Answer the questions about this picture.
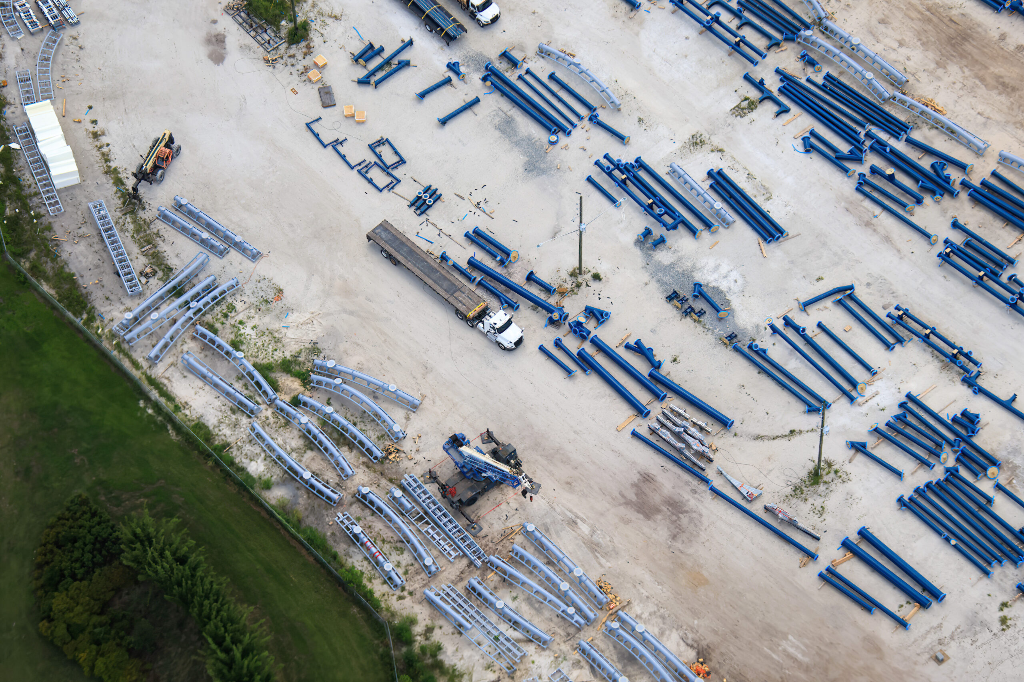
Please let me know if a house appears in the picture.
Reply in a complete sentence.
No, there's no house here.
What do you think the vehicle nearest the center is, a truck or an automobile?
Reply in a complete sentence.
From above, the vehicle nearest the center can be identified as a truck.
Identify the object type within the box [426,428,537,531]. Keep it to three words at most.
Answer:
crane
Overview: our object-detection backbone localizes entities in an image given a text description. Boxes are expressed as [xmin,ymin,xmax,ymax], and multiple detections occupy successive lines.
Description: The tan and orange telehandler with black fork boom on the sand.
[124,129,182,206]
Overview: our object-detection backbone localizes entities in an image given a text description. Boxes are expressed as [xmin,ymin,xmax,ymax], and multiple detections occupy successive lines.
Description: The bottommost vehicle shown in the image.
[456,305,522,353]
